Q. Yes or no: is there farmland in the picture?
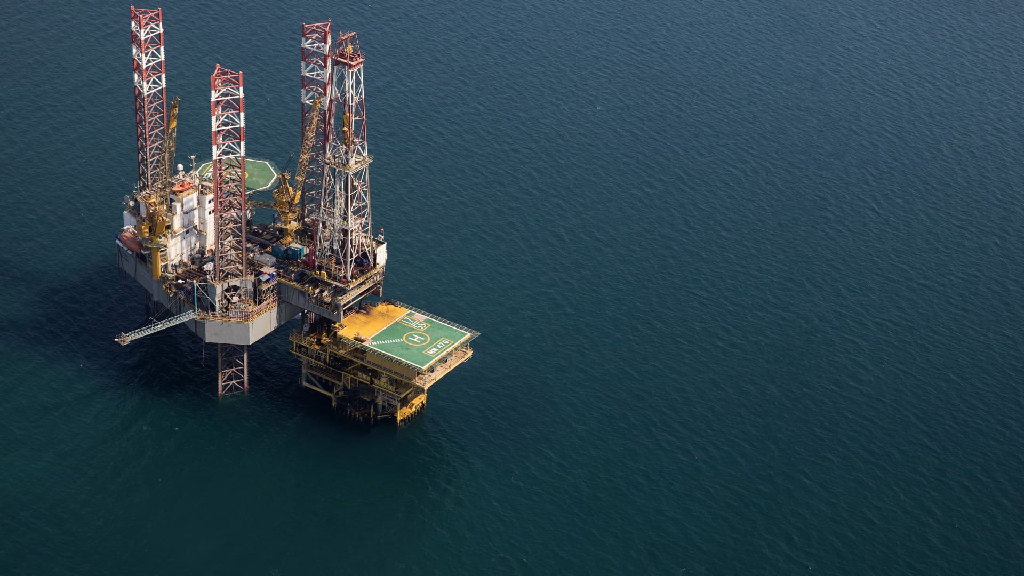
No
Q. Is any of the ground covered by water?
Yes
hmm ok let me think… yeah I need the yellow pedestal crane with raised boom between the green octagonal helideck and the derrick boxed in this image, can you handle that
[271,97,323,237]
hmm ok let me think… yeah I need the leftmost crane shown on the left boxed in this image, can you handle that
[138,96,182,282]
